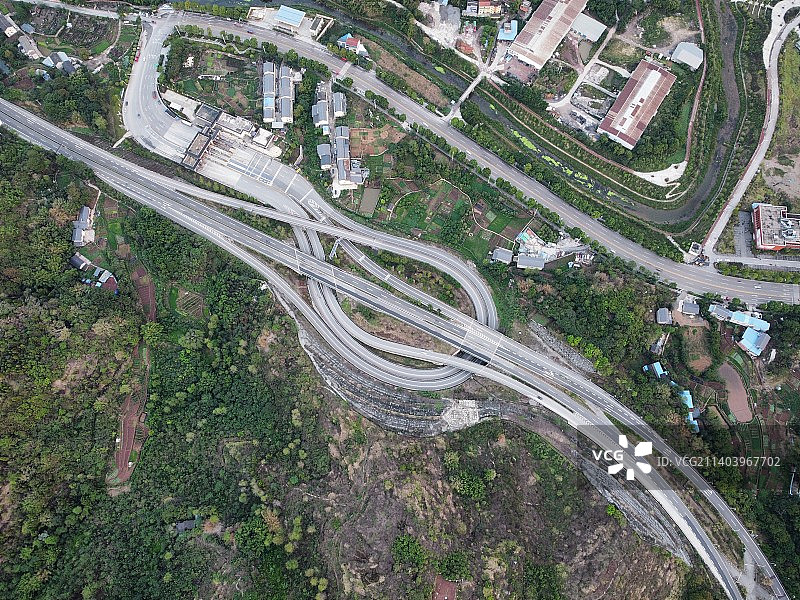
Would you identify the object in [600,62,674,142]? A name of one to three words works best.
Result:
building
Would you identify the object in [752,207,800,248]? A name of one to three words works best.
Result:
building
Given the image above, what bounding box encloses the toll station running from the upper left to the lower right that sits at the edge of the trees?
[123,14,328,229]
